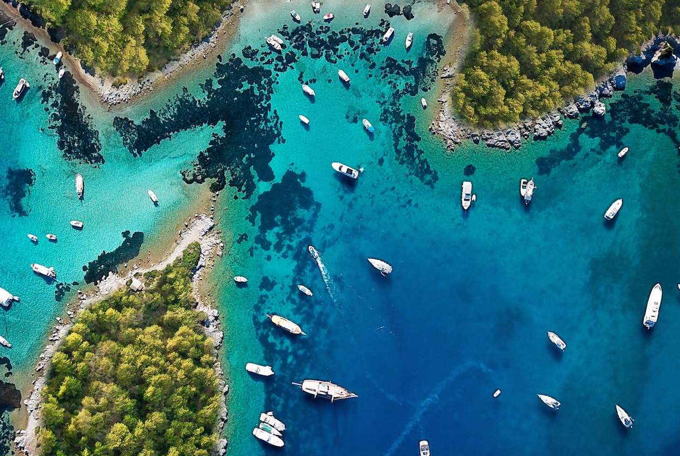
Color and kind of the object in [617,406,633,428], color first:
white boat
